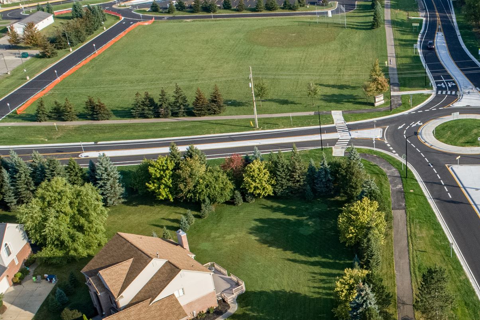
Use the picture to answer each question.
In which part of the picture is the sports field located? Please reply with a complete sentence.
Look in the top portion of the view to spot the sports field.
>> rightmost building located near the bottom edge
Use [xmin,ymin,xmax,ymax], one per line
[70,230,219,320]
